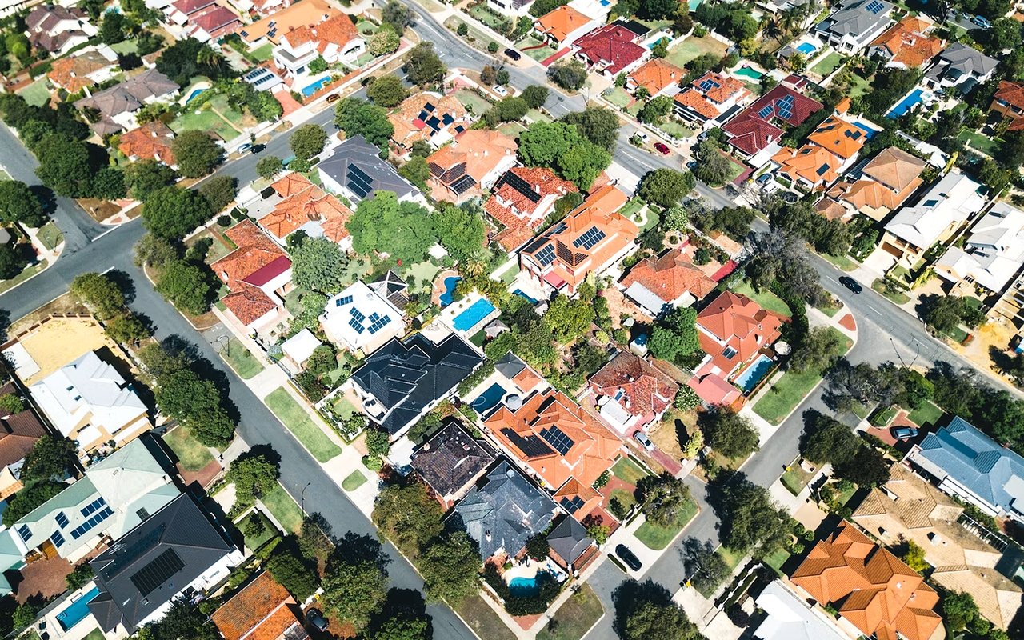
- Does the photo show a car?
Yes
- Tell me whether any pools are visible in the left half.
Yes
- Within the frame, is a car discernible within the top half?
Yes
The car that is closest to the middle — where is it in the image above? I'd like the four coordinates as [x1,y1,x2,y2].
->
[631,428,659,455]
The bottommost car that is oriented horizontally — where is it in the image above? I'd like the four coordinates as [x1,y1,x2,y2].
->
[890,425,923,441]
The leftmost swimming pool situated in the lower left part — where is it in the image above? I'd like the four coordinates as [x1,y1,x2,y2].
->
[50,582,105,637]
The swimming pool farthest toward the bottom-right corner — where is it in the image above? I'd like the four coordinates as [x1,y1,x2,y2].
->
[732,350,776,393]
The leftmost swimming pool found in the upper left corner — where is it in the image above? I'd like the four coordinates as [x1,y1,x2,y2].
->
[100,3,128,16]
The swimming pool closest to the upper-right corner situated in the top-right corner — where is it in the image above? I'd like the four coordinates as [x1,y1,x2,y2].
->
[882,86,931,121]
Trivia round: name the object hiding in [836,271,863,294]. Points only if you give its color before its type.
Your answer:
black car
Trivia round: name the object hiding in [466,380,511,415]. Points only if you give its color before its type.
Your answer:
blue swimming pool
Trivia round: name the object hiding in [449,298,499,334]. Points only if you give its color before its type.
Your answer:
blue swimming pool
